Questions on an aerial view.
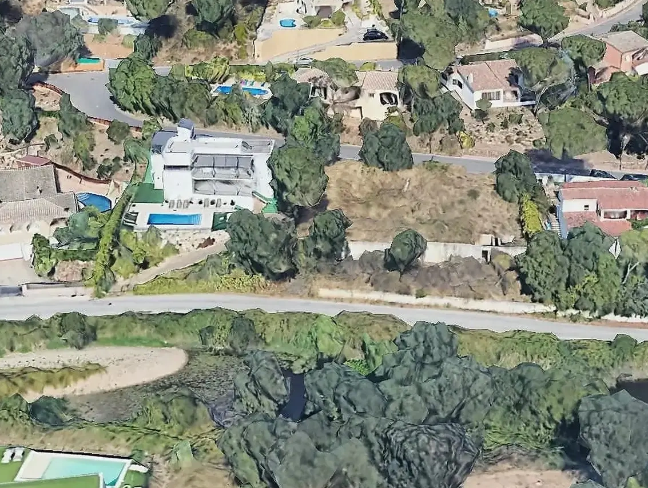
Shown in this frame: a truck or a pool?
pool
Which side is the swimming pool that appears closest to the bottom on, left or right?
left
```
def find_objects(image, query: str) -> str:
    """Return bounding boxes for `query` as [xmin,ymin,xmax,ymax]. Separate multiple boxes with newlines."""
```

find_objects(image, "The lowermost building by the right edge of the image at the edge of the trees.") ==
[543,176,648,240]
